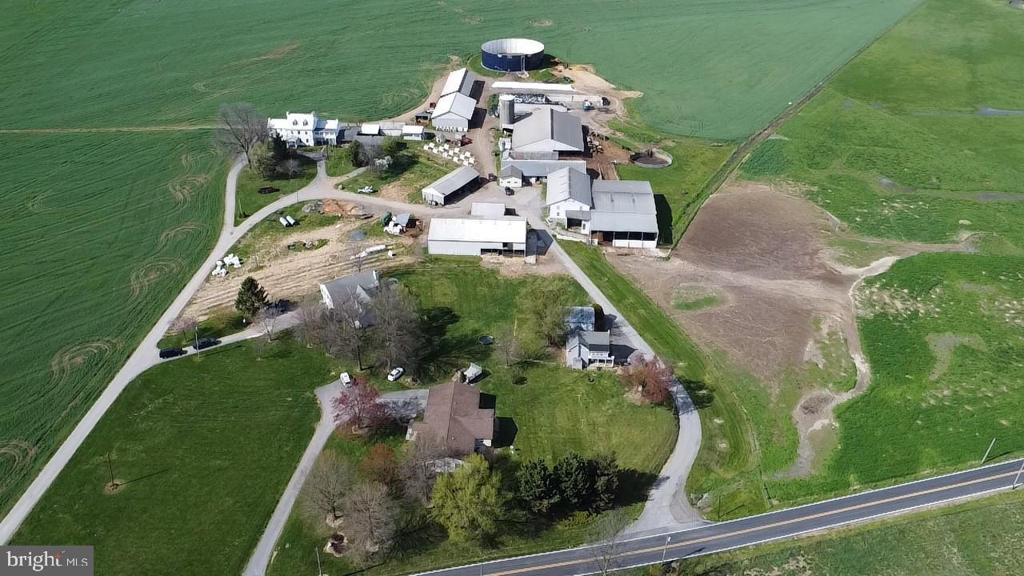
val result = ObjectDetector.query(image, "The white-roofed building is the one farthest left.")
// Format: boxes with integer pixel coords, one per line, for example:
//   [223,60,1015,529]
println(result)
[265,109,341,150]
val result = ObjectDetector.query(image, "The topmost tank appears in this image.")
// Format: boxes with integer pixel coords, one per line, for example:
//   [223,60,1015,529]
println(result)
[479,32,546,68]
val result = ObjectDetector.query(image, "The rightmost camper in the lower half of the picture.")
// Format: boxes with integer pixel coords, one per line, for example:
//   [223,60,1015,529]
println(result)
[463,362,487,382]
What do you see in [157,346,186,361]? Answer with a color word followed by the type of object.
black car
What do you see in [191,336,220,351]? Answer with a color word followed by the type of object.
black car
